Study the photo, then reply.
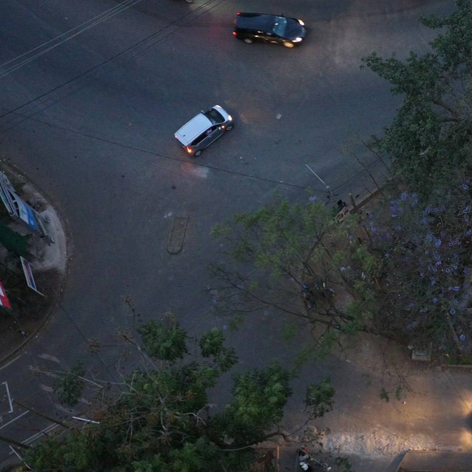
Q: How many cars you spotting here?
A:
two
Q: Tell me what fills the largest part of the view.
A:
paved ground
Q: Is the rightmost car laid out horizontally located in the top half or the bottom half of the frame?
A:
top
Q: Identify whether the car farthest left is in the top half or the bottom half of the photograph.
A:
top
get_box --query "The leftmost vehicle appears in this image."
[169,106,237,161]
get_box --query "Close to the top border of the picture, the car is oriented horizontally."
[227,10,308,52]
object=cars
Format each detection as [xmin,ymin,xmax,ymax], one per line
[227,10,308,52]
[169,106,237,161]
